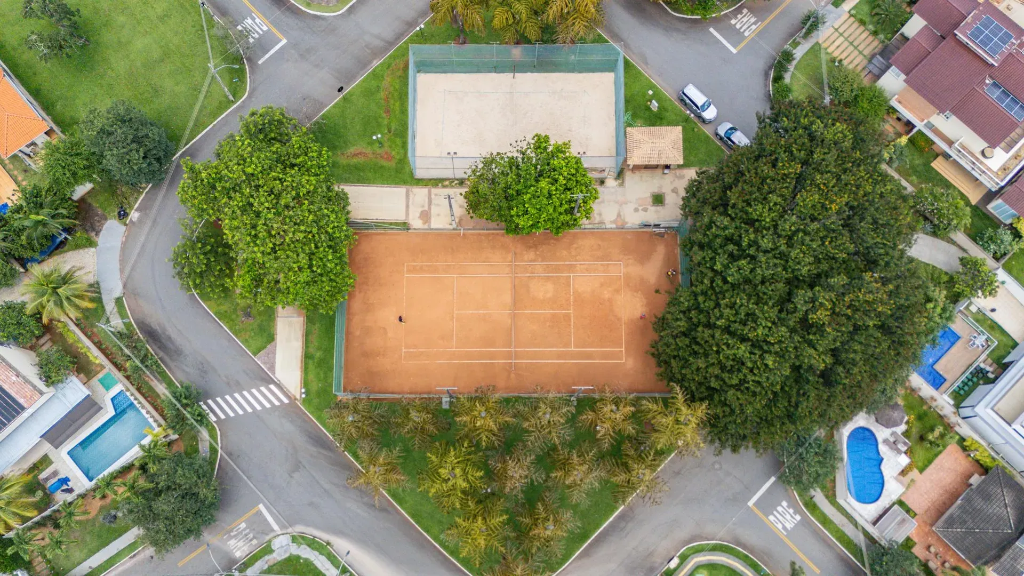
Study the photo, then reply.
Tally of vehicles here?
2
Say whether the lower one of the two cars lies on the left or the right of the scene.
right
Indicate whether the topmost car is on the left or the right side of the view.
right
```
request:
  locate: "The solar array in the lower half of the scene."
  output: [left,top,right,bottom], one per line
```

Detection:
[0,386,27,432]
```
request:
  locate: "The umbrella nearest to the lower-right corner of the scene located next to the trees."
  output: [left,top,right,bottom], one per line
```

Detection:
[873,400,906,433]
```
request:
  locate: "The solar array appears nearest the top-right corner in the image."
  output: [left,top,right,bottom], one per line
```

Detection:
[968,14,1015,57]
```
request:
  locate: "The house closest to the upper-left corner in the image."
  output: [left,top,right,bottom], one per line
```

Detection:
[0,71,53,161]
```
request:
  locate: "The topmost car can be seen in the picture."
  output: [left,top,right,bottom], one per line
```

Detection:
[678,85,718,124]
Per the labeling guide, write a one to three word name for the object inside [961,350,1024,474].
house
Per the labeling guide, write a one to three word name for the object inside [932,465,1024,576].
house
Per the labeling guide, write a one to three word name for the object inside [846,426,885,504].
swimming pool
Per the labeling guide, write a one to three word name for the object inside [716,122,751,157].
car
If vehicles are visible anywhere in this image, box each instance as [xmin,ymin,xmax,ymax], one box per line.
[678,85,718,124]
[716,122,751,157]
